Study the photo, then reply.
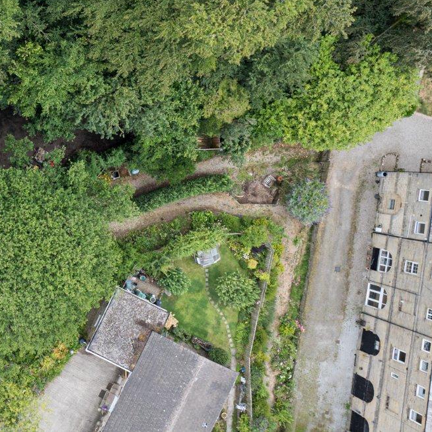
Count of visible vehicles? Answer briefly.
none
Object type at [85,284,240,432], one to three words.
house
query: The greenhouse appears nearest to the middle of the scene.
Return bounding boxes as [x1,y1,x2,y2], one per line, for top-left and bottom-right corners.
[191,245,220,268]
